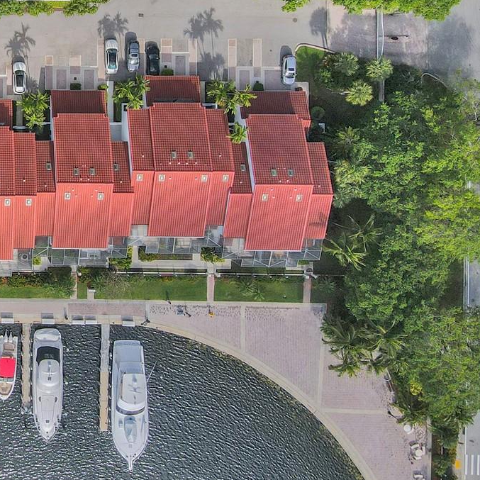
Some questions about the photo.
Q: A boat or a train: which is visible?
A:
boat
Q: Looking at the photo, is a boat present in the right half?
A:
No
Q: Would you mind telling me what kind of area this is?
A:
residential area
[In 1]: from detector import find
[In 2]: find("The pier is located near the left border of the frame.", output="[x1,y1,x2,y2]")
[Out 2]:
[19,323,33,413]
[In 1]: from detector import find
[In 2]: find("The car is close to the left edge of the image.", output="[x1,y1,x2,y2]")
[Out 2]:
[12,62,27,93]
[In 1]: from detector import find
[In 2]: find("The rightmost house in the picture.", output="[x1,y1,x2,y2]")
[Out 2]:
[228,91,334,267]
